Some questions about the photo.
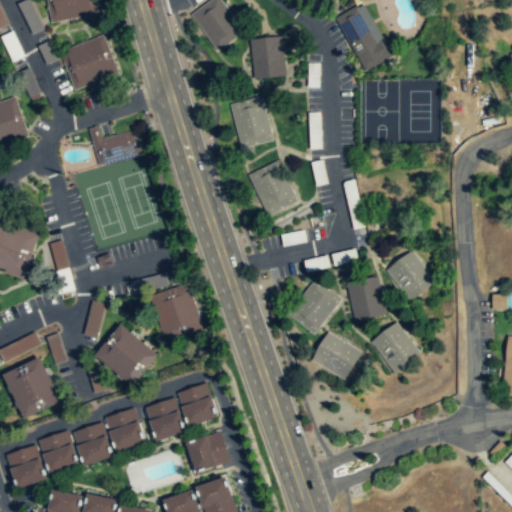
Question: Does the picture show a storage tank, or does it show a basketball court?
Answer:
basketball court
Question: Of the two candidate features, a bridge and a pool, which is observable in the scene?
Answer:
pool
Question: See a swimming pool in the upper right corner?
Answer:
Yes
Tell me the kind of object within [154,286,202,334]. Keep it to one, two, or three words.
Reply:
building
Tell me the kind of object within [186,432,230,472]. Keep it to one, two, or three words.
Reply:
house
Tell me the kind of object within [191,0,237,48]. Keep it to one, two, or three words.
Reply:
building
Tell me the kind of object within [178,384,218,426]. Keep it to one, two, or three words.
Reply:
house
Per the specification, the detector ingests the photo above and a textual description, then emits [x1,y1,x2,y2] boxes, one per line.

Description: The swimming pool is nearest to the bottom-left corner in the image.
[128,450,184,493]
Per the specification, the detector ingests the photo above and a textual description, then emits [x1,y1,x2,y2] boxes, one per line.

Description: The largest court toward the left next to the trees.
[75,156,164,249]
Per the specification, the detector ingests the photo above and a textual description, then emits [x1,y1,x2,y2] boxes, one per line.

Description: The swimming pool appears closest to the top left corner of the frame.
[62,140,98,172]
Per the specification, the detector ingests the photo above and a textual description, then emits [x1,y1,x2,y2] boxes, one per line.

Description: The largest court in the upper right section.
[363,80,442,142]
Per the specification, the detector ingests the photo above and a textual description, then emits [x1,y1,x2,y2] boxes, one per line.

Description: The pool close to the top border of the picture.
[376,0,424,38]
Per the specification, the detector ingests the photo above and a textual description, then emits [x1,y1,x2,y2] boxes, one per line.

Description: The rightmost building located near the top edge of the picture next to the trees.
[337,6,390,70]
